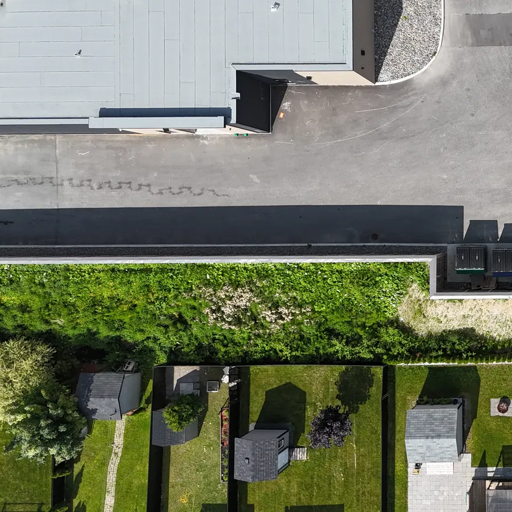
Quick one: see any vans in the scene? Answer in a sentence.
No, there is no van in the image.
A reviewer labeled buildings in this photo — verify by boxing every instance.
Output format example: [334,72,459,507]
[73,368,141,421]
[153,405,197,447]
[404,402,462,463]
[0,0,375,135]
[235,429,290,484]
